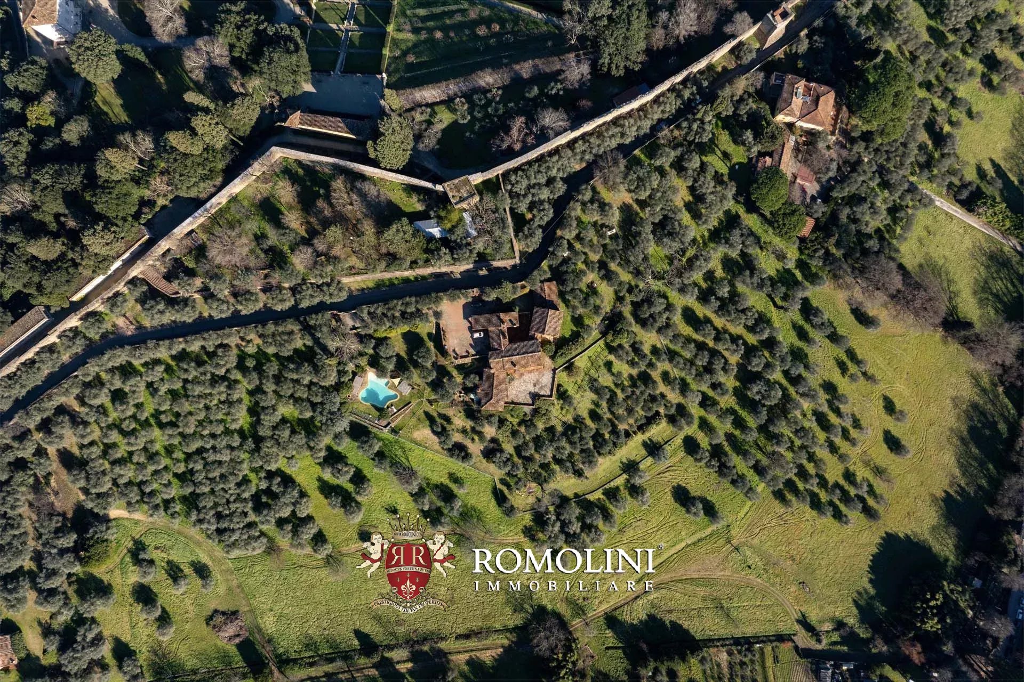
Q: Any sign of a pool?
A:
Yes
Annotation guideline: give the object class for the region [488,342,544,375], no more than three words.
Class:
house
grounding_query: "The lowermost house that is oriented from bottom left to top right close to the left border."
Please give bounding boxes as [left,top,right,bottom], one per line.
[0,305,58,363]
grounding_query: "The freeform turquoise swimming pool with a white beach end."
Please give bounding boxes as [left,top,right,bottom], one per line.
[358,371,401,409]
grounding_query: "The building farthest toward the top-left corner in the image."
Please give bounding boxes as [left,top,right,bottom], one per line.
[21,0,74,36]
